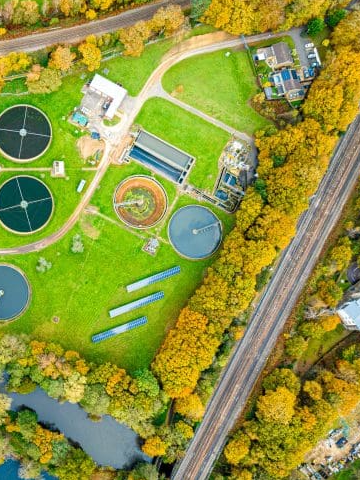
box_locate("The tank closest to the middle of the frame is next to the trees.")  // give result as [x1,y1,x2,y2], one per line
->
[167,203,223,259]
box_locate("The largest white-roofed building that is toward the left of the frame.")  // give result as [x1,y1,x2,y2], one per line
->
[90,75,127,119]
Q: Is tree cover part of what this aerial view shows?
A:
Yes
